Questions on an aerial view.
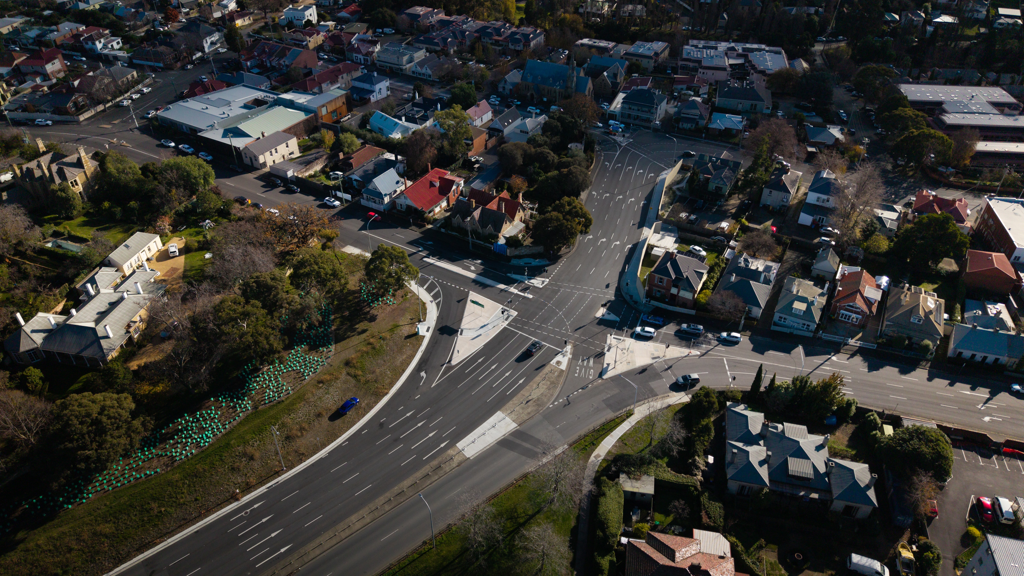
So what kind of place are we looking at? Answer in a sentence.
This image shows a residential area.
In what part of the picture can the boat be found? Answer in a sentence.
The boat is in the bottom right part of the image.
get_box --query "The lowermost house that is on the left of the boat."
[624,530,735,576]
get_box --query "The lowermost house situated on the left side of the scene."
[6,261,175,371]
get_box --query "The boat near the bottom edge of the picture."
[896,540,917,576]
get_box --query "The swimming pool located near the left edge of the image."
[43,236,84,252]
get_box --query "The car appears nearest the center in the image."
[525,342,545,356]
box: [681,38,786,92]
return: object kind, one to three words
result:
building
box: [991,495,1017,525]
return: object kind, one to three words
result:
vehicle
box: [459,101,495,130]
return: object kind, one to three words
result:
house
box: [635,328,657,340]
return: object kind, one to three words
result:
vehicle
